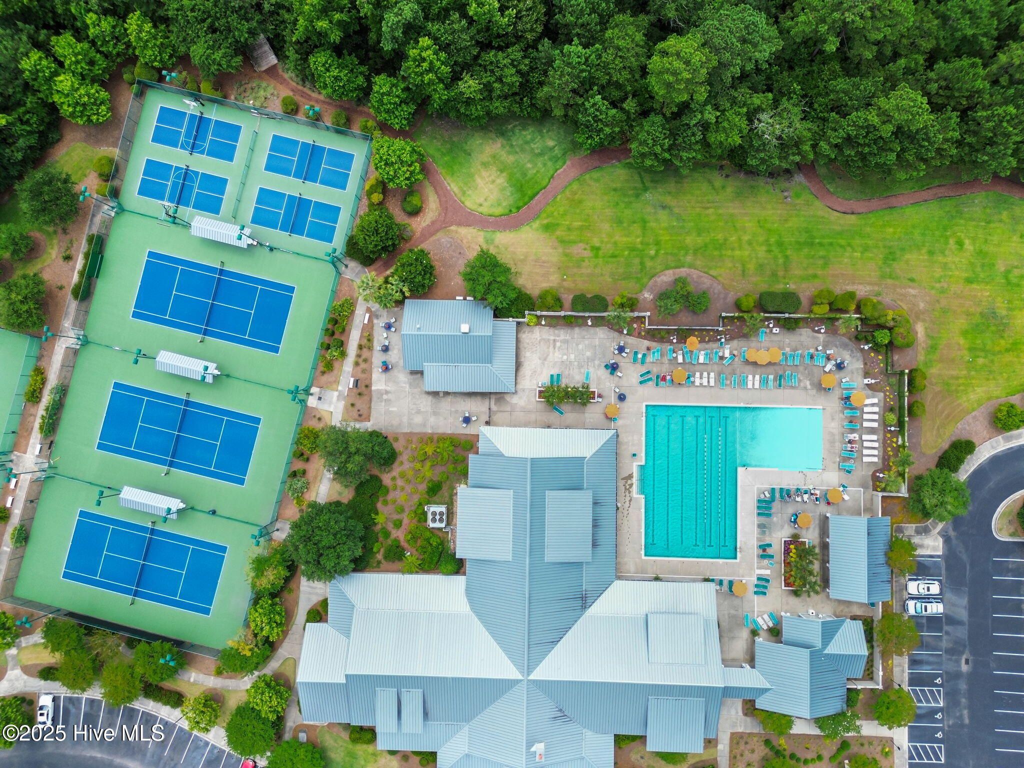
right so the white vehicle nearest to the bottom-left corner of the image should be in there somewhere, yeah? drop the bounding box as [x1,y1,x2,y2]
[38,693,57,726]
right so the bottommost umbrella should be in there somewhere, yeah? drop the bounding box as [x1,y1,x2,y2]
[733,582,747,596]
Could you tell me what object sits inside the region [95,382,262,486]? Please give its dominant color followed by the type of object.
blue tennis court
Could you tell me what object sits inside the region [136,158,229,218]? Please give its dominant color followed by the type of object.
blue sports court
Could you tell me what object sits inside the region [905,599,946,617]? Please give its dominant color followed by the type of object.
white car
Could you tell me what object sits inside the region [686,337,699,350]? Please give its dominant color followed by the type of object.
orange umbrella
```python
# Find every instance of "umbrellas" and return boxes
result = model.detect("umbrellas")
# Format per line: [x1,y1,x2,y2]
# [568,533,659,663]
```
[733,582,747,596]
[686,337,699,350]
[745,348,758,362]
[756,351,770,364]
[827,488,843,503]
[605,404,619,418]
[850,391,866,406]
[768,348,782,362]
[796,513,812,528]
[821,373,836,388]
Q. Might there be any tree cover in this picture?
Yes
